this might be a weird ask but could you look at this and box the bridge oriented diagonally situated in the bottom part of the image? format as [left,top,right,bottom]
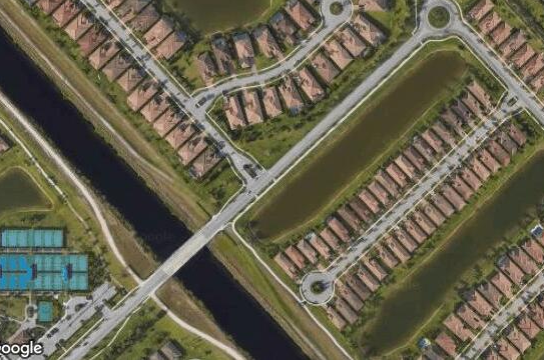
[156,221,216,278]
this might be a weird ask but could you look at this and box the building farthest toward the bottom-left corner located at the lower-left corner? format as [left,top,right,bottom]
[4,321,34,351]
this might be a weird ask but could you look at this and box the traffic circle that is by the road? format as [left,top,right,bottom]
[418,0,458,37]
